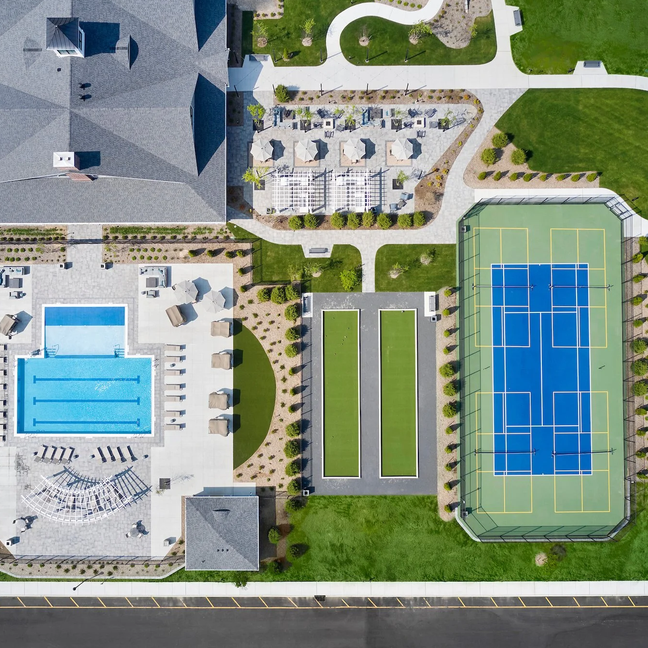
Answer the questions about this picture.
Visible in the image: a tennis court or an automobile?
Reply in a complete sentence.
Of the two, only a tennis court appears.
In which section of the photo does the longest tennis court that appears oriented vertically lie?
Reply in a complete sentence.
Look in the right portion of the view to spot the longest tennis court that appears oriented vertically.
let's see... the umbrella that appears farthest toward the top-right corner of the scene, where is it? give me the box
[390,137,414,159]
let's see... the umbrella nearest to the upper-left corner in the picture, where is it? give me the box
[250,138,274,161]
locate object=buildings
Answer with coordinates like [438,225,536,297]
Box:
[0,0,233,225]
[185,494,259,571]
